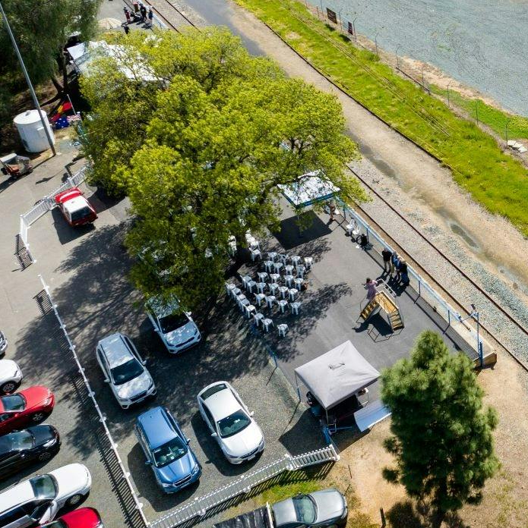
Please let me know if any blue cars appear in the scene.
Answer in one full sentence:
Yes, a blue car is visible in the scene.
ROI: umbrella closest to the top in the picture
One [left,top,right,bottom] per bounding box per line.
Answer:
[87,7,120,34]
